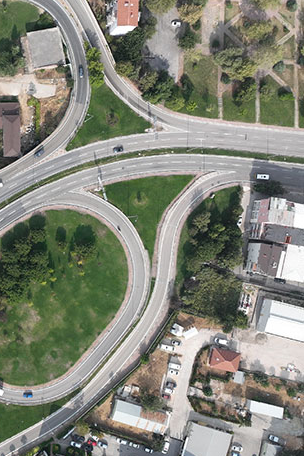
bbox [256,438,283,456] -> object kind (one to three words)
shed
